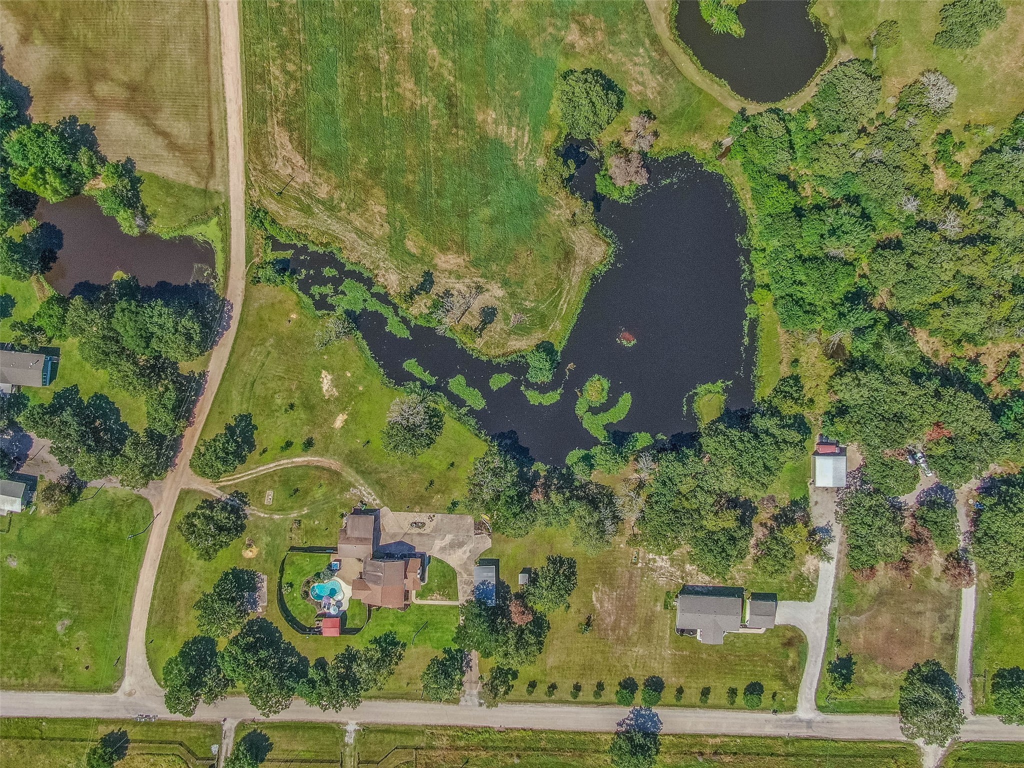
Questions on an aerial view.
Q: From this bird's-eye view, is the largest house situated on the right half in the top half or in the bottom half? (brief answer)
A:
bottom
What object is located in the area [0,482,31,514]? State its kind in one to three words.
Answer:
house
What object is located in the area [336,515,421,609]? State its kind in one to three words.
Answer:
house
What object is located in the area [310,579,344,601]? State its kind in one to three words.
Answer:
swimming pool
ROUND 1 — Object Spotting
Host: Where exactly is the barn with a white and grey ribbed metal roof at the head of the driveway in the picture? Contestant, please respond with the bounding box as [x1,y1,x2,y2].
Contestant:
[808,456,846,487]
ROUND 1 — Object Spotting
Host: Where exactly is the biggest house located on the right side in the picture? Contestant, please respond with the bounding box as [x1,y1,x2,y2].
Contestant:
[677,593,743,646]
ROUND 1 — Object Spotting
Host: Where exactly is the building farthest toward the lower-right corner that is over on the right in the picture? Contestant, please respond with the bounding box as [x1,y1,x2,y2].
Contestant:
[747,600,776,628]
